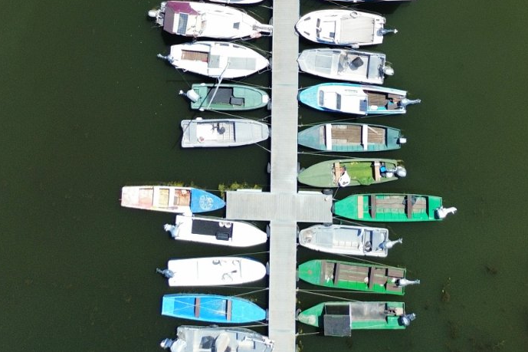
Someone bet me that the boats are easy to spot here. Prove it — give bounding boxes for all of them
[298,260,418,293]
[164,213,269,249]
[298,81,419,126]
[144,1,273,43]
[297,45,401,85]
[296,0,396,48]
[328,192,457,221]
[162,289,268,324]
[298,123,413,154]
[298,290,421,335]
[298,153,417,195]
[159,322,274,352]
[299,218,403,271]
[182,116,271,151]
[160,40,271,107]
[159,251,268,289]
[174,83,271,125]
[122,184,226,216]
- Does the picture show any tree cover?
No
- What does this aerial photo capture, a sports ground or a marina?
marina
